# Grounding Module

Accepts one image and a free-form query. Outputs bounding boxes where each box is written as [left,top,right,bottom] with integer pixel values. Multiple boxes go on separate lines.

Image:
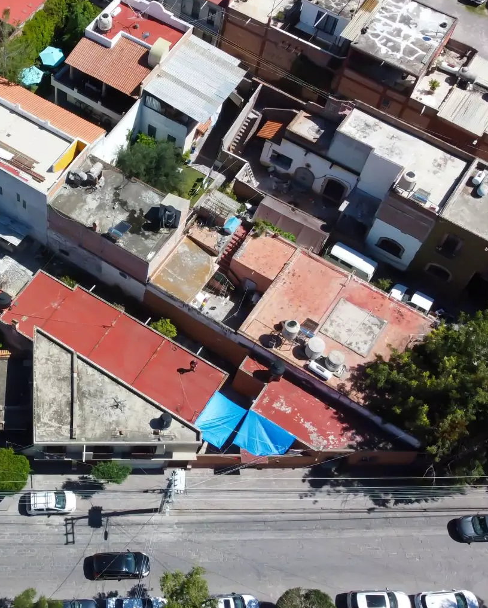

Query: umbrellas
[37,50,67,79]
[16,69,46,91]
